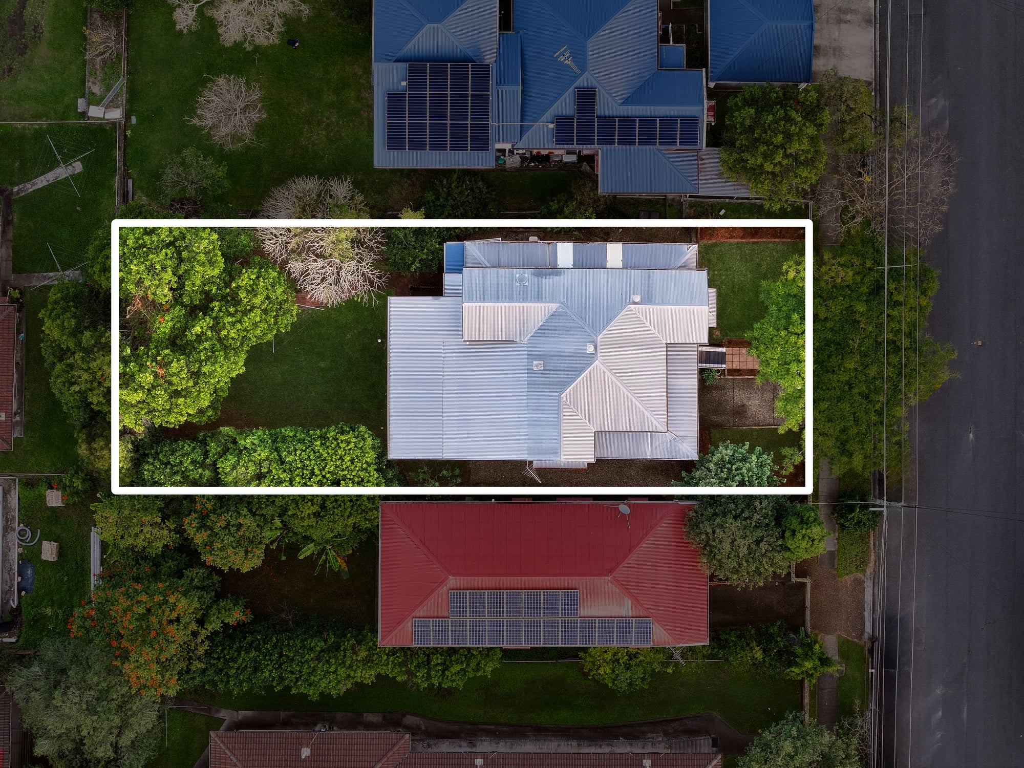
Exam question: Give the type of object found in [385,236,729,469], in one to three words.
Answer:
house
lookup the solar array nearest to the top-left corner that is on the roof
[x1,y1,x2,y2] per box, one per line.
[385,63,491,151]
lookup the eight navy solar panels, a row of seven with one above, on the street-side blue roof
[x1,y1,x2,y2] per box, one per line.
[553,89,702,144]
